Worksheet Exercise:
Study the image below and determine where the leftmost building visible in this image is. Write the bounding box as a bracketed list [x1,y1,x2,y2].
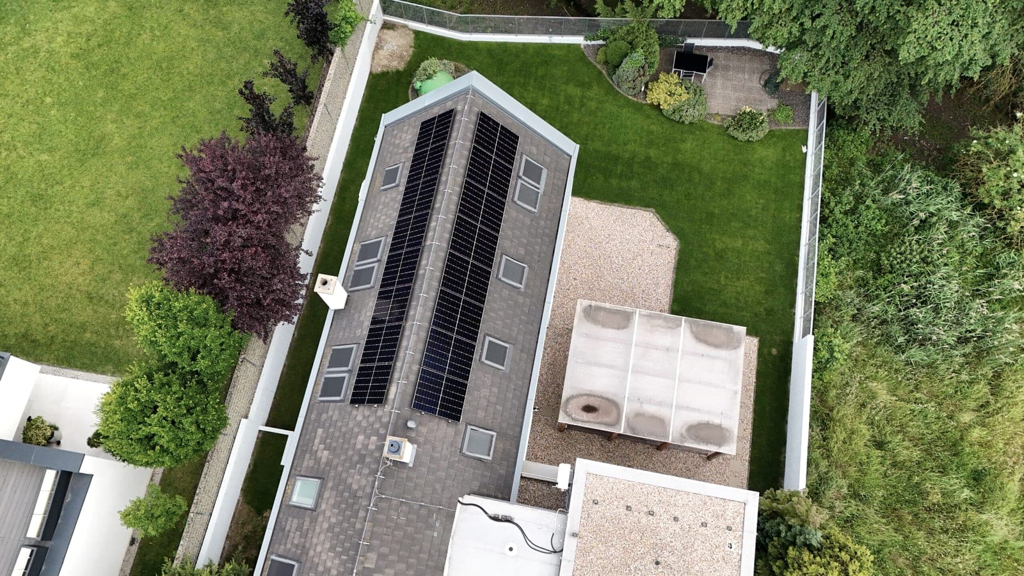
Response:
[0,437,153,576]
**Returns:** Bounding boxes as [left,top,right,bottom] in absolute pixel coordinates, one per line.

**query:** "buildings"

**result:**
[255,68,581,576]
[0,437,153,576]
[559,458,759,576]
